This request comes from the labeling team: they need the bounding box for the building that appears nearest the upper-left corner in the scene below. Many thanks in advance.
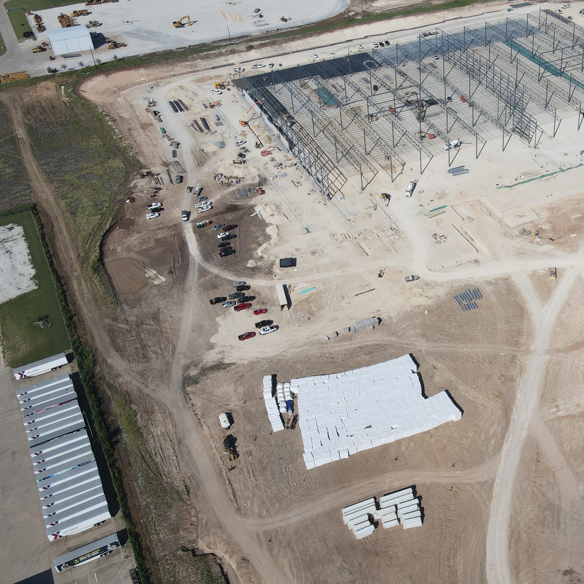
[48,24,95,55]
